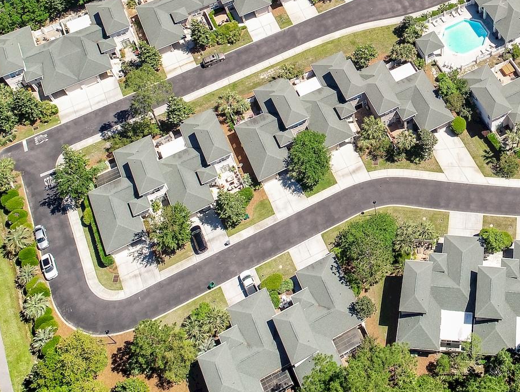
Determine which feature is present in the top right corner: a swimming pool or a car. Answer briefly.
swimming pool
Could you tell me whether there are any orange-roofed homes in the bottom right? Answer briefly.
No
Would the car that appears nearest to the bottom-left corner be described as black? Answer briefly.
No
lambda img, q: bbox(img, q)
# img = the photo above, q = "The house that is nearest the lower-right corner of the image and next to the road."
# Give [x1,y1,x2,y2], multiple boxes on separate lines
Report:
[398,226,520,358]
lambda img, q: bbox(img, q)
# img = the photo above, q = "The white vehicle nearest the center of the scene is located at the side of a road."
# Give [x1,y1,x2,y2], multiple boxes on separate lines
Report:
[240,265,259,297]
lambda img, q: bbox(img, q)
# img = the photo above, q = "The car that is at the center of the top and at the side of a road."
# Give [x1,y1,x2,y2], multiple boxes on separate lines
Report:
[200,51,226,66]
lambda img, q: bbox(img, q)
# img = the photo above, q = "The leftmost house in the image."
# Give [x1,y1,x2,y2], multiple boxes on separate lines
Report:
[0,0,142,118]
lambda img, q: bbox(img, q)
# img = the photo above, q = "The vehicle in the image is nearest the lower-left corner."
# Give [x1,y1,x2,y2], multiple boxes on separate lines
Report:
[38,251,58,282]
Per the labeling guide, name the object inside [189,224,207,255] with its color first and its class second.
black car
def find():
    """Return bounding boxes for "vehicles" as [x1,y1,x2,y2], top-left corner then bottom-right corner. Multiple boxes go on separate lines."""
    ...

[189,224,207,255]
[240,265,259,297]
[33,223,50,251]
[38,251,58,282]
[200,51,226,66]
